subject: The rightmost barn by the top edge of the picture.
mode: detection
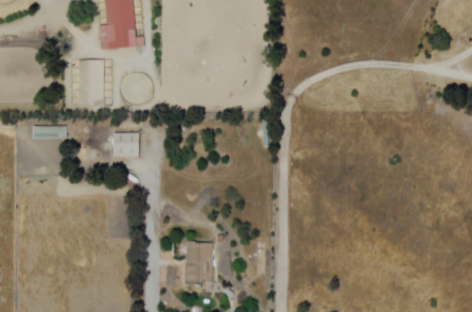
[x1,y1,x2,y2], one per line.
[99,0,146,48]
